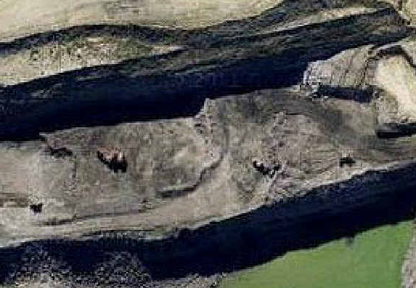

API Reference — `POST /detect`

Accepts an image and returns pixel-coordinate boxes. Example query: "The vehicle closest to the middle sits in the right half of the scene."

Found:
[253,159,274,171]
